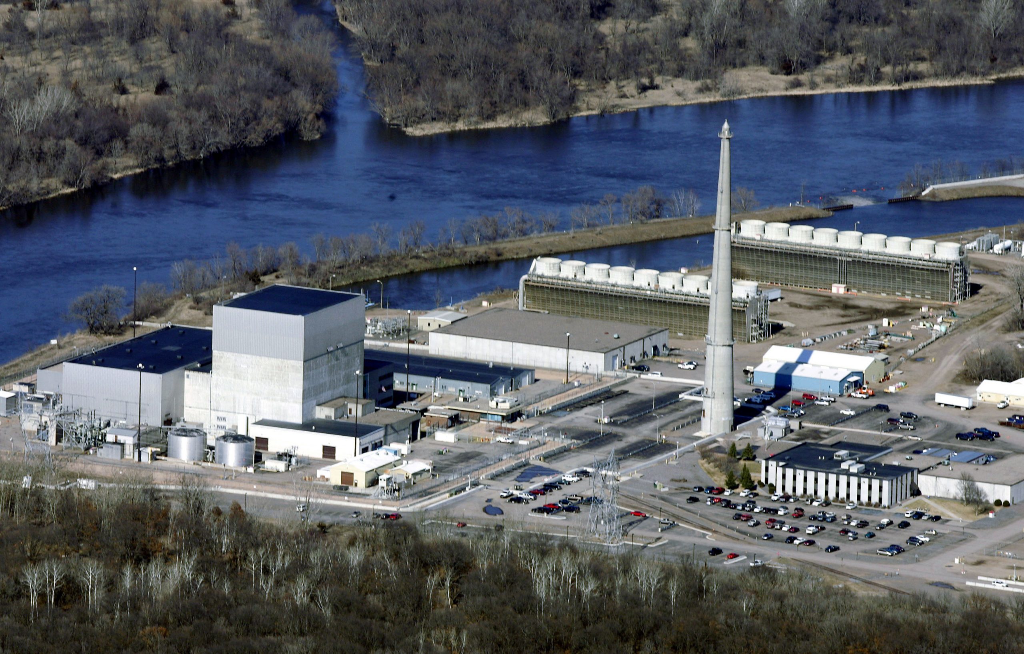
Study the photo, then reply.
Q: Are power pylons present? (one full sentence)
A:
Yes, there's a power pylon here.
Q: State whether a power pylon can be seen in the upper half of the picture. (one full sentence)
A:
No, no power pylon can be made out in the upper half of the picture.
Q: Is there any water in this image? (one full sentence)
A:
Yes, some water is visible.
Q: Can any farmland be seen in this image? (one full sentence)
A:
No, there's no farmland in this view.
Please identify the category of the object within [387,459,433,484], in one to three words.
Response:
shed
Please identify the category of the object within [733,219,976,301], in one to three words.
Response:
cooling tower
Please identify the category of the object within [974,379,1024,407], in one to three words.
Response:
building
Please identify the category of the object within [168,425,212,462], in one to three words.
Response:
storage tank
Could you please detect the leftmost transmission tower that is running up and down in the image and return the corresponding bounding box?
[23,377,66,467]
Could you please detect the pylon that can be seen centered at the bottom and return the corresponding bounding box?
[581,442,623,542]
